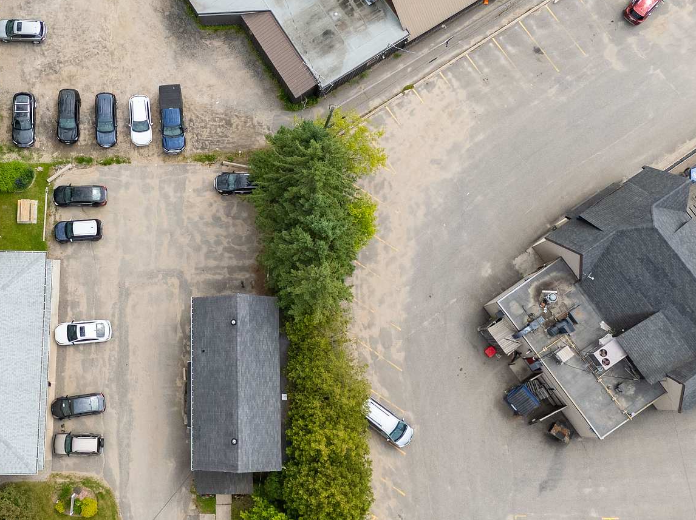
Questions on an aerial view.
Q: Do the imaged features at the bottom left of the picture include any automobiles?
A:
Yes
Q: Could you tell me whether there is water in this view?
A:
No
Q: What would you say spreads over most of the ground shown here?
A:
paved ground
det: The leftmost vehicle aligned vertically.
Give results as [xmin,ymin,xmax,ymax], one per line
[9,92,36,148]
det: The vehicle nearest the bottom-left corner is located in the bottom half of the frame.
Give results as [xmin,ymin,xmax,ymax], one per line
[51,430,106,460]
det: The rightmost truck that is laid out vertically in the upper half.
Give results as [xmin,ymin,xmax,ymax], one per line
[158,84,187,154]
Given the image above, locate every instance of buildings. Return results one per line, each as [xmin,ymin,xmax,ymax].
[181,0,492,102]
[0,250,52,476]
[187,294,286,494]
[484,166,696,439]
